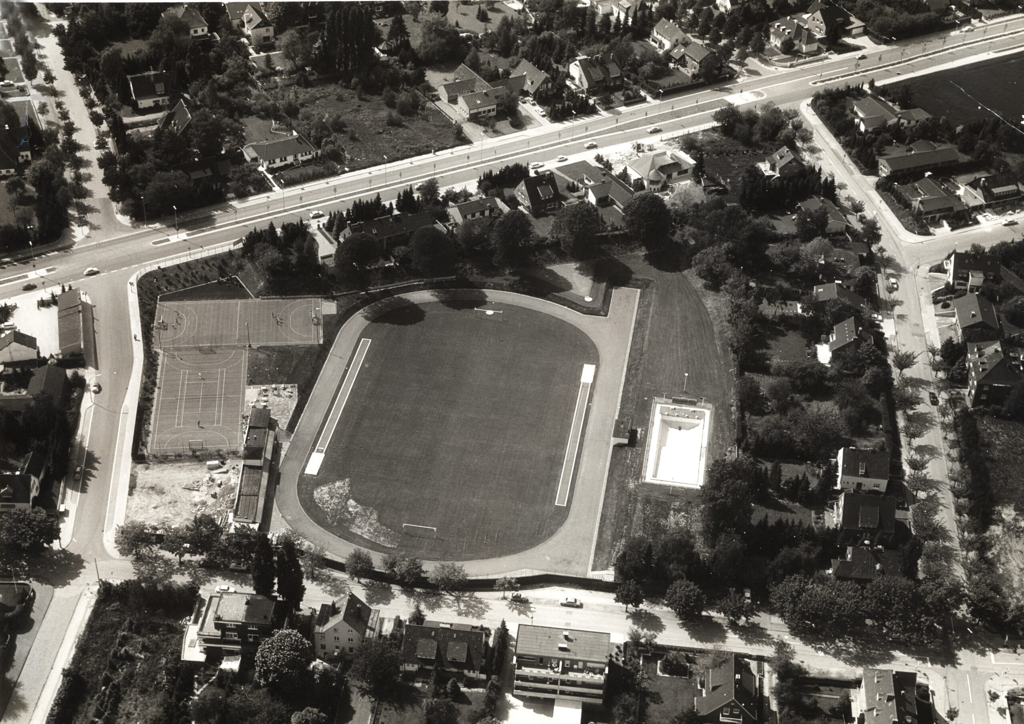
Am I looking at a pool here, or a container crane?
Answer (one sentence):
It is a pool that can be seen here.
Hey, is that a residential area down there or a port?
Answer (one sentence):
The area seen from above is a residential area.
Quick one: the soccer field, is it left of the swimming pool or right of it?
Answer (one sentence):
Compared with the swimming pool, the soccer field is located further to the left.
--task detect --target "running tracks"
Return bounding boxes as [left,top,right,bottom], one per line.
[275,287,640,579]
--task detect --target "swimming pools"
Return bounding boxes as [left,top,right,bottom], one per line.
[642,397,712,490]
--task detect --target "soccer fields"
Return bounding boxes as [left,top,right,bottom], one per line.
[297,300,600,561]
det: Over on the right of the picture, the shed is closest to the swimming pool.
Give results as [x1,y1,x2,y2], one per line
[613,419,631,447]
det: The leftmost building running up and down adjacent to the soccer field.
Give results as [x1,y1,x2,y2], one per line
[234,408,278,531]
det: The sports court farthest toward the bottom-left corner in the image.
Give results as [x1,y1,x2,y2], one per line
[151,346,248,452]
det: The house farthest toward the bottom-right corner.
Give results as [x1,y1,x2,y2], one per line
[863,667,918,724]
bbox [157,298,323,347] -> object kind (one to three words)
sports court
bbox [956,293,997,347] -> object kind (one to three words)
house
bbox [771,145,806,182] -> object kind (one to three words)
house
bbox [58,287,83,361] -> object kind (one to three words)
building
